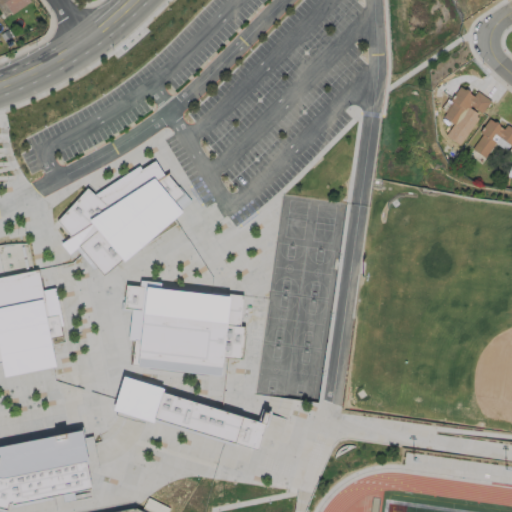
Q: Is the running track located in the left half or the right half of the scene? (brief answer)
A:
right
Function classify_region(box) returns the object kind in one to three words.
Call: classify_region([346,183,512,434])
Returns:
sports field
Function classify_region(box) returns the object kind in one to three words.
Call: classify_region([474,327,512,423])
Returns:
baseball field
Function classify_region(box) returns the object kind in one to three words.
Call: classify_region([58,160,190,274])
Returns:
building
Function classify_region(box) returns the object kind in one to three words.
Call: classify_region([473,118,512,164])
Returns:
house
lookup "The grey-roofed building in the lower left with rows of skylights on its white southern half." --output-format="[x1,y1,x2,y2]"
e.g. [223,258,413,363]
[0,431,98,510]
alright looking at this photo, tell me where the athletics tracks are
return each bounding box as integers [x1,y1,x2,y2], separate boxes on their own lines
[323,473,512,512]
